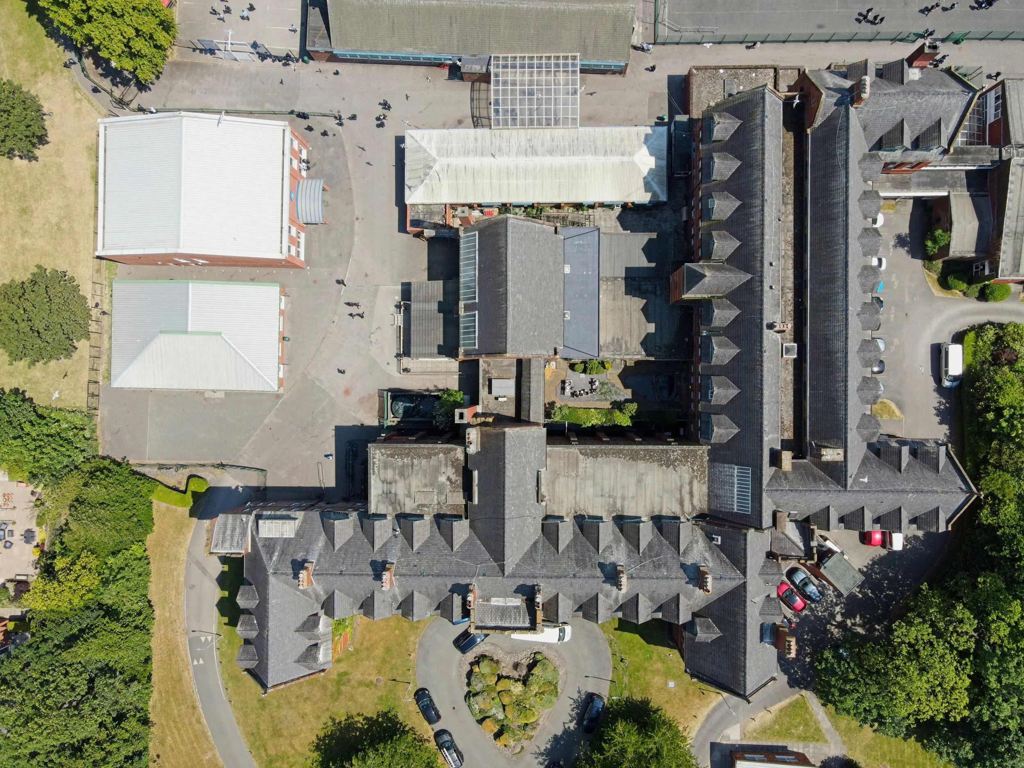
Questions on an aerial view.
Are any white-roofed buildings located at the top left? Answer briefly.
Yes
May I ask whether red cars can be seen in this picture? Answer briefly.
Yes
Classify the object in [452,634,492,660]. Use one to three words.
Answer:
car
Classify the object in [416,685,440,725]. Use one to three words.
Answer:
car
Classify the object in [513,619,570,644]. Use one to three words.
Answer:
vehicle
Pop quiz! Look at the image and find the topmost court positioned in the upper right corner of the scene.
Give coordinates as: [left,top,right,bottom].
[659,0,1024,40]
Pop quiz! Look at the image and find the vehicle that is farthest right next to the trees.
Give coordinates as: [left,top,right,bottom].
[938,345,963,388]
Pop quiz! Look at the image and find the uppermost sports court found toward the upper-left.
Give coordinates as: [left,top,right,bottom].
[177,0,301,56]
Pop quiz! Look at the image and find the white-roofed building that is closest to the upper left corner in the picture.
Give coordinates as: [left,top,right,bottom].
[93,110,303,265]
